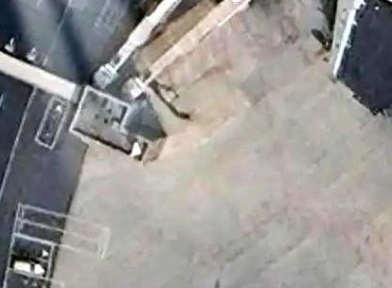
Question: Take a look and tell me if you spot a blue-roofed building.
No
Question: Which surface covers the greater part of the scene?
paved ground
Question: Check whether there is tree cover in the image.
No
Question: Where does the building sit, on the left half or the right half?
left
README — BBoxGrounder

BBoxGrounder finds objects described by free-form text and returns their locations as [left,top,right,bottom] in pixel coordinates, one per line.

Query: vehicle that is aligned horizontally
[13,261,45,276]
